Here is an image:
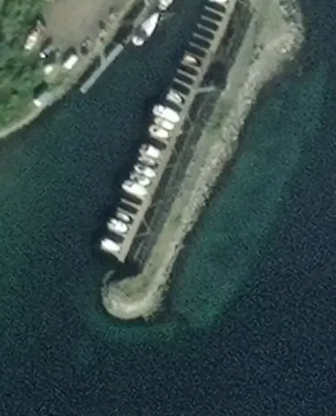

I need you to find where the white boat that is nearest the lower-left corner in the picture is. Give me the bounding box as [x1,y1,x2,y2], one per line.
[98,237,121,251]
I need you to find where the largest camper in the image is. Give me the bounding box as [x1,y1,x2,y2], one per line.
[64,53,80,70]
